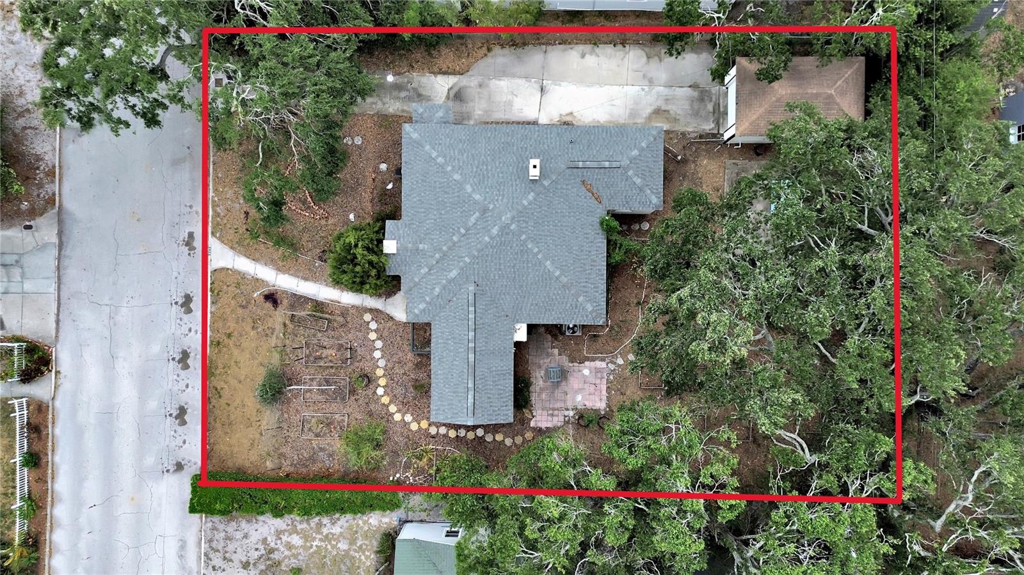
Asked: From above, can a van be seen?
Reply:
No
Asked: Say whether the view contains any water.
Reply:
No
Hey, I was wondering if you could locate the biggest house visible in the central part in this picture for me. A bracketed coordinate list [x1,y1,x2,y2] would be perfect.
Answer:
[383,102,664,427]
